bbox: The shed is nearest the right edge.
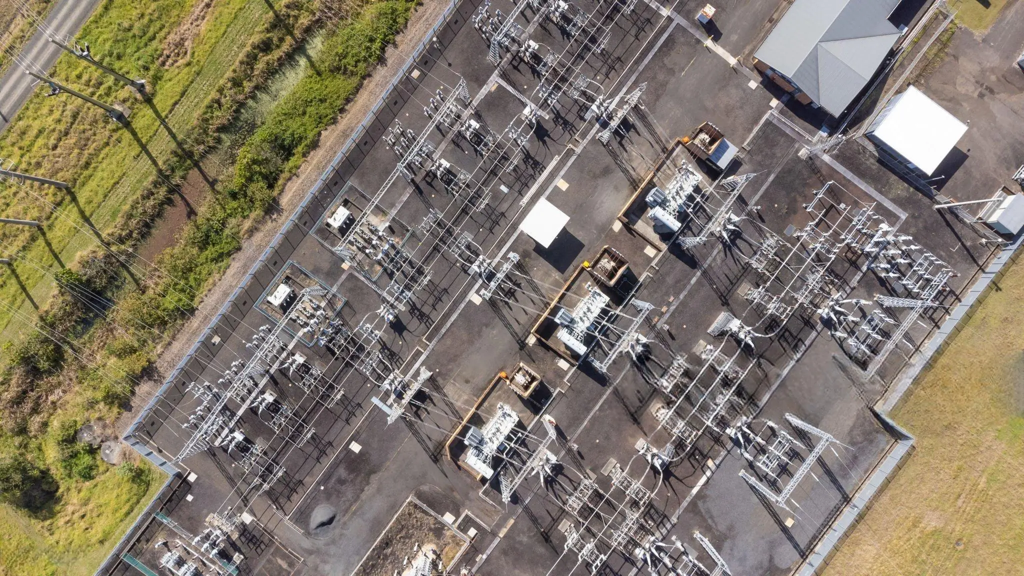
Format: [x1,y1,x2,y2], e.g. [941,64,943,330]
[977,191,1024,235]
